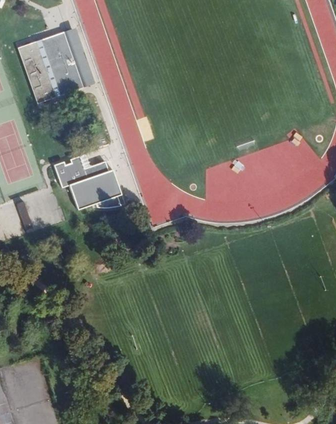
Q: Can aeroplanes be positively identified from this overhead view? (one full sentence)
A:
No, there isn't any aeroplane down there.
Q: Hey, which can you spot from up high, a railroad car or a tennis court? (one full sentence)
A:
Of the two, only a tennis court appears.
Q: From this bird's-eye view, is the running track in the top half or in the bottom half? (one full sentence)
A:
You can find the running track in the top half.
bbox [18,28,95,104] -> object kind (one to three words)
building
